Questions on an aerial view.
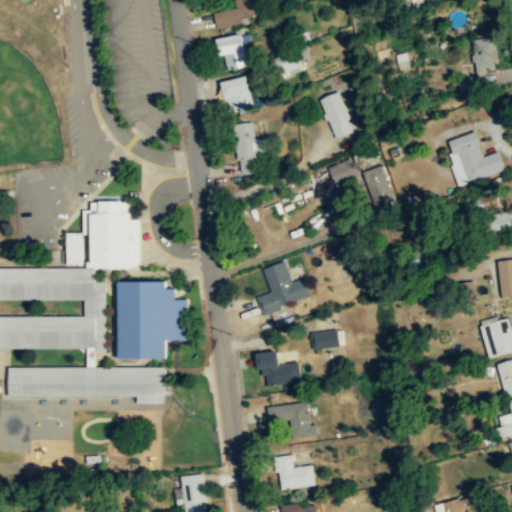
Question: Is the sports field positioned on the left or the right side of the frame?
left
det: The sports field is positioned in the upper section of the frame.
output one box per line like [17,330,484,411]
[0,40,64,166]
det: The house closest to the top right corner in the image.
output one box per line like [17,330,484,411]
[474,38,502,75]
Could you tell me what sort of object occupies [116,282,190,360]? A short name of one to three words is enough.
building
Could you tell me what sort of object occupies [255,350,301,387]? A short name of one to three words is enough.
house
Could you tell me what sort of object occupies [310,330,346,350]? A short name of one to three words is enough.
house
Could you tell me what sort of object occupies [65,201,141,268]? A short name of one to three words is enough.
building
